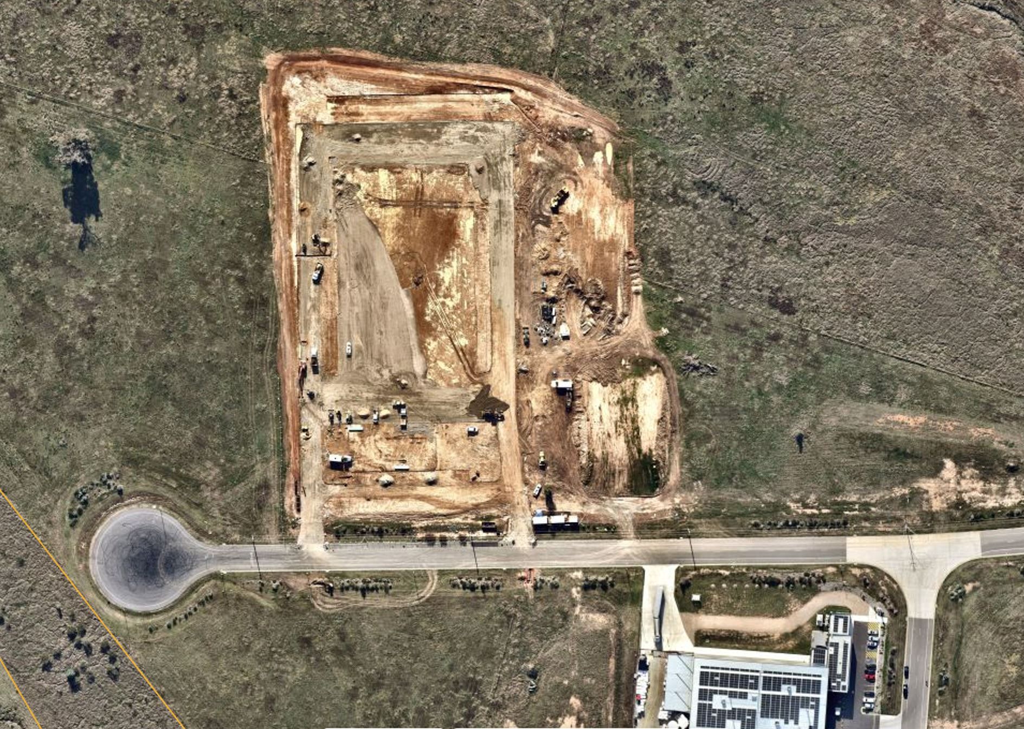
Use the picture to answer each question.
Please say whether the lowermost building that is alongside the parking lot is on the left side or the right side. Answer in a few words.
right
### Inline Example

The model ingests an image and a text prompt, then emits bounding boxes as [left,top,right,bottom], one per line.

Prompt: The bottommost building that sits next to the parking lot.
[689,657,829,729]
